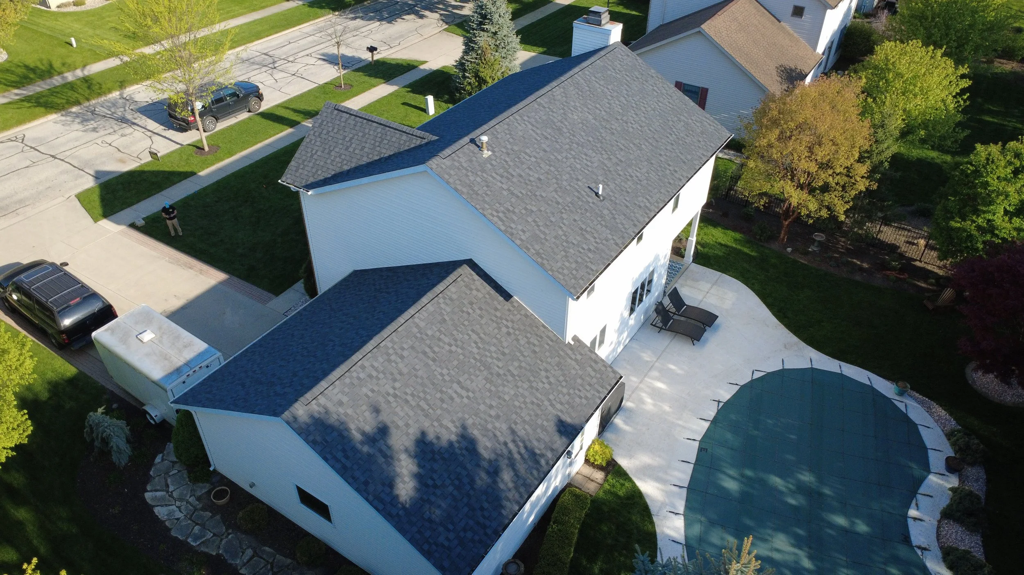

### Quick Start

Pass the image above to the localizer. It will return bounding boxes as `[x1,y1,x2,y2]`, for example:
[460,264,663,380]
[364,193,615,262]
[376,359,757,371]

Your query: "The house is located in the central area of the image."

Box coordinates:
[166,8,734,575]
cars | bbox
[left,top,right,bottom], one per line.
[0,258,117,347]
[167,79,268,132]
